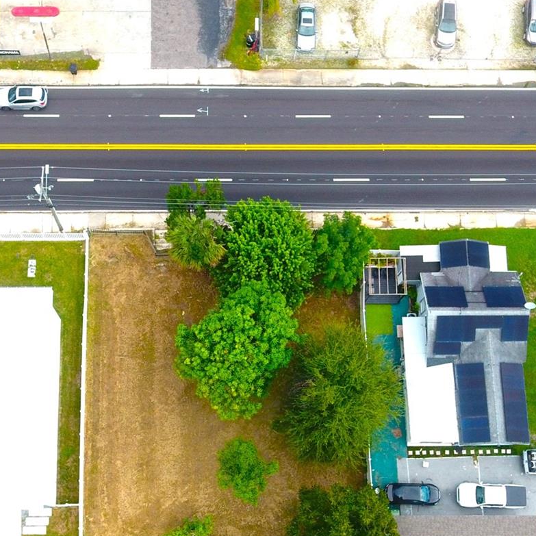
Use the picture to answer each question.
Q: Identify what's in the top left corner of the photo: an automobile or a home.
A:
automobile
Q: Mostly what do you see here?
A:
paved ground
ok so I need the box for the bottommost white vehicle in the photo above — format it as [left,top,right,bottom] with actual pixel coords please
[456,480,531,511]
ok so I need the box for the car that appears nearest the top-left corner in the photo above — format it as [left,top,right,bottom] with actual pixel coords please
[0,82,48,112]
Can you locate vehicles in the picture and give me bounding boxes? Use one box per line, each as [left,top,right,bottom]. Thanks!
[521,448,536,475]
[294,2,320,53]
[432,0,461,51]
[0,82,48,112]
[521,0,536,47]
[386,479,441,508]
[456,480,531,511]
[247,34,259,53]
